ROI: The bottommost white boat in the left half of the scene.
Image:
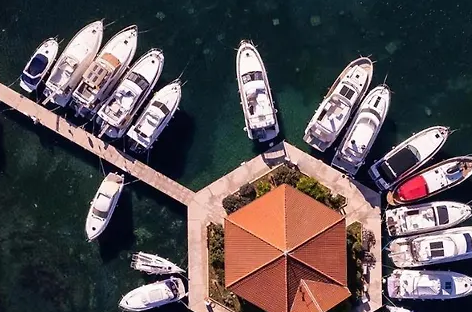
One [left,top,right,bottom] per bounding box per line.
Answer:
[116,278,191,311]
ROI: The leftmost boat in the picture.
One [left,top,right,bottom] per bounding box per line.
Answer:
[10,32,66,97]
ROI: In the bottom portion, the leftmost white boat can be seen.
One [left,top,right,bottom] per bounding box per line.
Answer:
[83,158,140,242]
